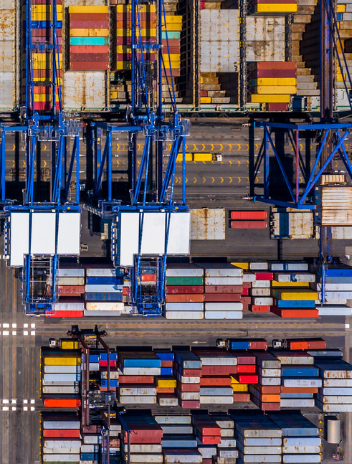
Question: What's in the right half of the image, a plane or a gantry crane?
gantry crane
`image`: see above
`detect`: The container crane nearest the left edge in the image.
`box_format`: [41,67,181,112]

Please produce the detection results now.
[0,0,82,315]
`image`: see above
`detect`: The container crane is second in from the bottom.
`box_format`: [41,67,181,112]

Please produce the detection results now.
[66,328,113,429]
